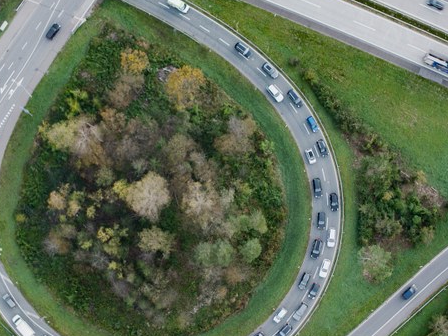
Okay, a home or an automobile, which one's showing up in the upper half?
automobile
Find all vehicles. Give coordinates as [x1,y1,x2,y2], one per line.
[400,283,417,300]
[304,147,316,166]
[266,84,283,103]
[1,291,17,311]
[318,258,331,278]
[317,210,325,231]
[421,52,448,73]
[10,314,36,336]
[271,306,289,324]
[424,0,445,12]
[329,193,338,211]
[326,227,336,247]
[292,302,308,321]
[167,0,189,13]
[233,41,253,59]
[286,88,303,109]
[316,139,328,157]
[306,115,319,134]
[261,61,279,80]
[307,281,320,299]
[297,271,310,290]
[274,322,292,336]
[312,177,322,198]
[310,238,322,259]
